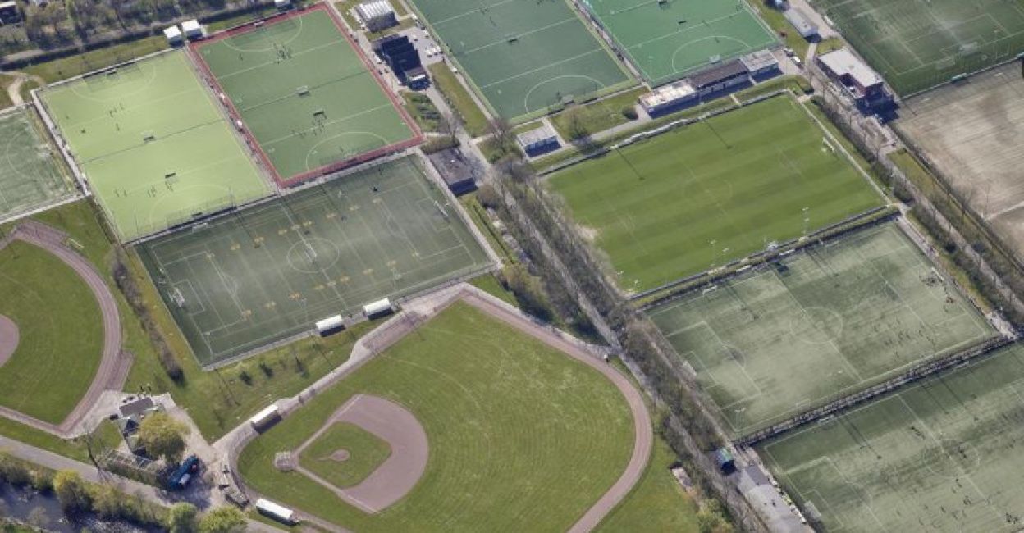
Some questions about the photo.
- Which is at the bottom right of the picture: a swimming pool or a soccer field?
soccer field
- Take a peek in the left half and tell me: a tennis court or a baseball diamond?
baseball diamond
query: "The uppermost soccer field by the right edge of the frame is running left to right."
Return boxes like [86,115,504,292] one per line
[807,0,1024,98]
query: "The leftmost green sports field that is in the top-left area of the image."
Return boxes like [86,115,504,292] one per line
[39,48,274,243]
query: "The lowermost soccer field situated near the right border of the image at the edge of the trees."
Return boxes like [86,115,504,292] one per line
[747,342,1024,533]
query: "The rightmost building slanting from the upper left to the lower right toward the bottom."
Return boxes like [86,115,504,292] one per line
[737,464,808,533]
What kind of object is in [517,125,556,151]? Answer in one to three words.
building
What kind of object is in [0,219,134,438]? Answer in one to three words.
baseball field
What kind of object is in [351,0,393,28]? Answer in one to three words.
building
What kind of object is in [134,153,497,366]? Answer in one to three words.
soccer field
